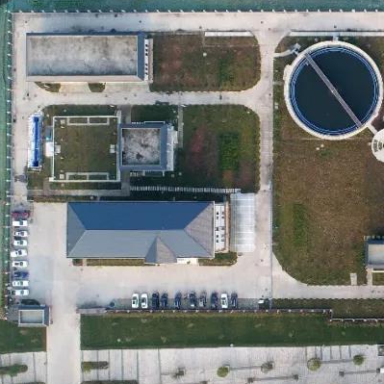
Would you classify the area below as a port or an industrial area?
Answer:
industrial area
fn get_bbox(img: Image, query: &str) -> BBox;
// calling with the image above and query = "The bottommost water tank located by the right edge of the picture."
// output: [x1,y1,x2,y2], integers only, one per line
[280,41,384,140]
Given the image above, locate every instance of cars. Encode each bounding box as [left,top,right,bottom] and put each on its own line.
[138,293,147,308]
[11,213,28,220]
[12,240,27,246]
[230,293,237,308]
[173,293,181,308]
[188,293,196,308]
[219,293,227,308]
[11,290,27,297]
[10,261,26,268]
[19,297,37,304]
[11,271,27,278]
[149,293,158,308]
[11,280,27,287]
[198,293,206,308]
[9,249,25,257]
[158,293,168,308]
[9,220,27,228]
[209,293,217,308]
[12,231,27,237]
[129,293,138,308]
